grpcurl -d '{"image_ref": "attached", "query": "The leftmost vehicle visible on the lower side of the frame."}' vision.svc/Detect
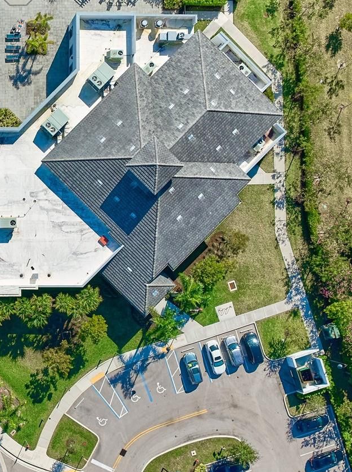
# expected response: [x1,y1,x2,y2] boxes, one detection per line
[182,350,201,385]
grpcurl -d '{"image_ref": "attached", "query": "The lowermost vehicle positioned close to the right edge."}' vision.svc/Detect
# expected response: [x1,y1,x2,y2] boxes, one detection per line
[306,449,343,472]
